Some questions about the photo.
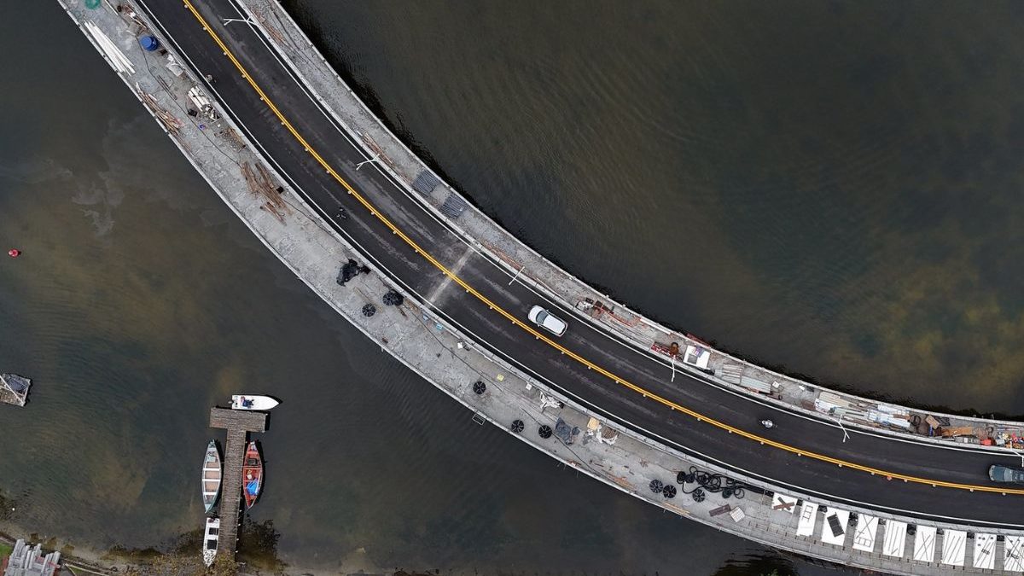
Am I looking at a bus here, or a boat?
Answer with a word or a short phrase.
boat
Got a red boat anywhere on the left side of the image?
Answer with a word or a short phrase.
Yes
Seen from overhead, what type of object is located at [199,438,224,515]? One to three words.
boat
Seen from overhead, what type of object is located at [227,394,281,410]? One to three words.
boat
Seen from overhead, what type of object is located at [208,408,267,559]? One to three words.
pier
